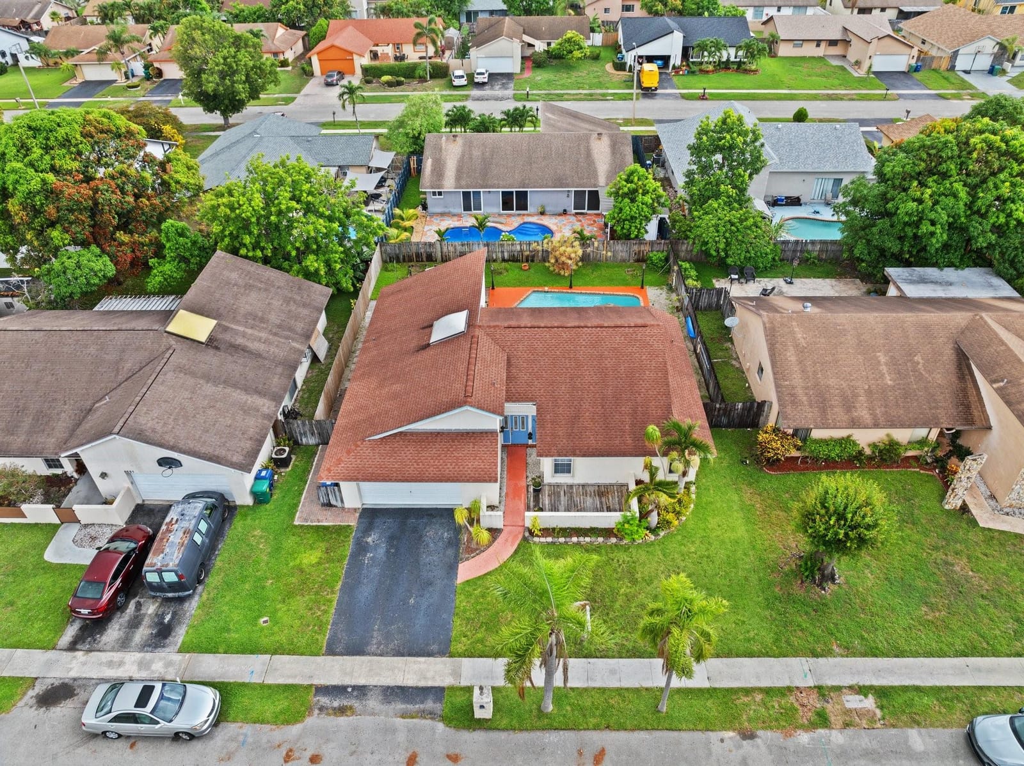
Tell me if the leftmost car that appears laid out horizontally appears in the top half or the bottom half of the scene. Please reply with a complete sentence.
Seen from above, the leftmost car that appears laid out horizontally lies in the bottom half of the view.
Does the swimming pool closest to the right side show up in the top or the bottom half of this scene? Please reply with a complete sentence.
It is in the top half that the swimming pool closest to the right side appears.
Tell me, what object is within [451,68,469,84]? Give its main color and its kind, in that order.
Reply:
white car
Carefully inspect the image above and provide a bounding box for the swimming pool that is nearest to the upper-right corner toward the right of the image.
[781,215,871,238]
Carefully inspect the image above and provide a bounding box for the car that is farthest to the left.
[66,526,149,623]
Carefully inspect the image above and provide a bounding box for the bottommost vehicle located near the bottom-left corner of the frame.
[80,674,225,741]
